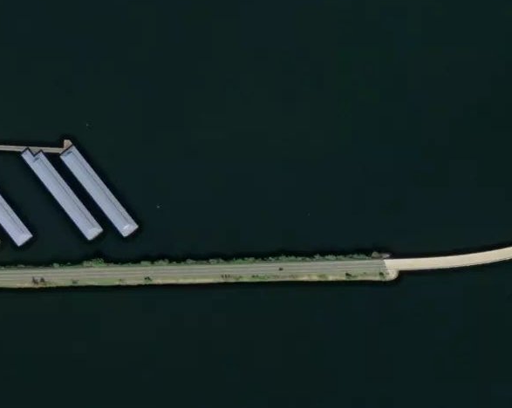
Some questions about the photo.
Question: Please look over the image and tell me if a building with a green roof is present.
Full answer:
No, the picture doesn't show any building with a green roof.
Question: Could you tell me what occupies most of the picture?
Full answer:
The bulk of the photo consists of water.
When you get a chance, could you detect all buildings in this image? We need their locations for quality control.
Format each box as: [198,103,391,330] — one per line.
[24,149,103,241]
[0,195,33,246]
[60,145,139,237]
